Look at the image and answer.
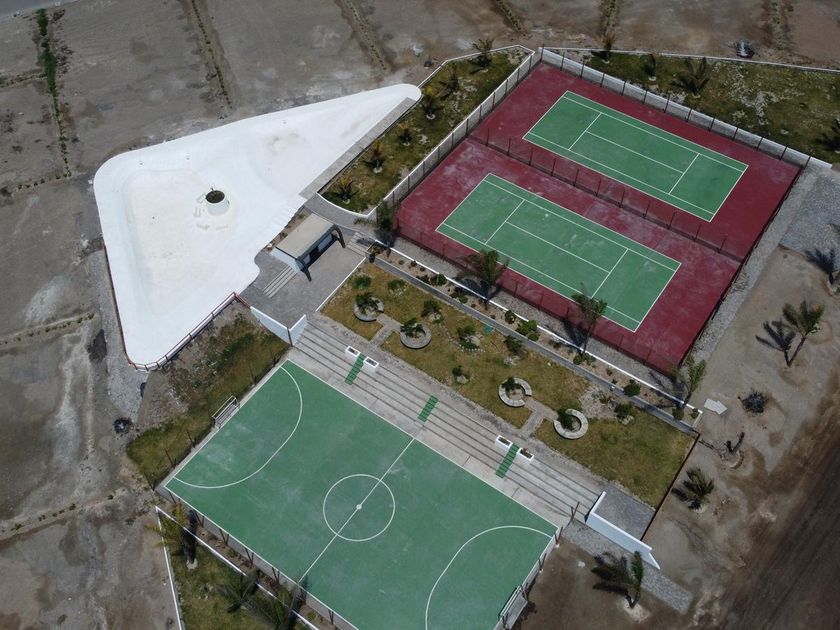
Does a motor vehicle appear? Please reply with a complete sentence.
No, I find no motor vehicle anywhere in the image.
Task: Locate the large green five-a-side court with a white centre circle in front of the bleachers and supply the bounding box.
[157,349,568,630]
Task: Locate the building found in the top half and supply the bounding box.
[267,214,346,283]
